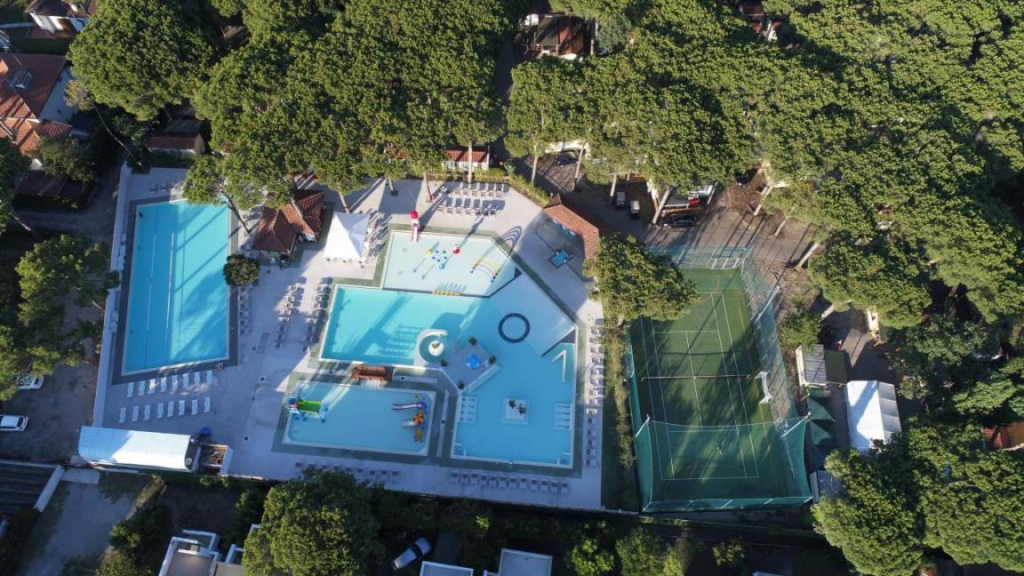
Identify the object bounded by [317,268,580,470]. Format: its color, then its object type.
blue swimming pool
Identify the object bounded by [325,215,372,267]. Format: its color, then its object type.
white tent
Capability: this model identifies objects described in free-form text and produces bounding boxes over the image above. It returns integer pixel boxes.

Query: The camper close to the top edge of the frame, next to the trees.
[520,9,539,30]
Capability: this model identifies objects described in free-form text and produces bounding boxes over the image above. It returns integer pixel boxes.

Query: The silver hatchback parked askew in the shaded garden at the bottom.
[389,537,432,576]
